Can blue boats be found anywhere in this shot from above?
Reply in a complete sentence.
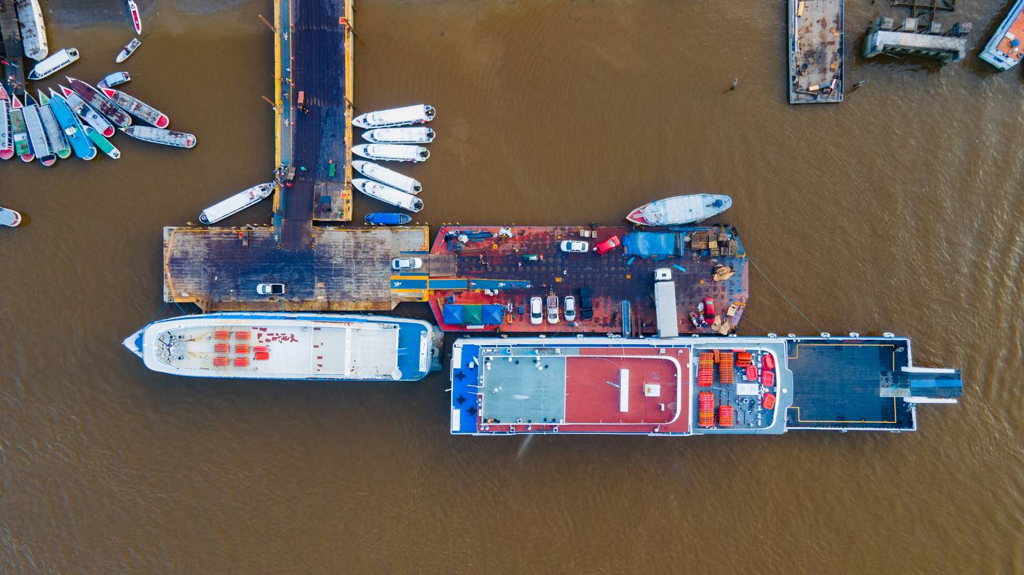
Yes, there is a blue boat in the image.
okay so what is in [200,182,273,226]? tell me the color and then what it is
white boat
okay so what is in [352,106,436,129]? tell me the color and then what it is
white boat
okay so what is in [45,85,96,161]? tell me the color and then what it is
blue boat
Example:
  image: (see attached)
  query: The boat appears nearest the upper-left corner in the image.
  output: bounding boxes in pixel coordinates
[19,0,51,61]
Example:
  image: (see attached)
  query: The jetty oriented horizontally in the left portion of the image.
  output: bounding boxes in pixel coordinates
[164,226,429,310]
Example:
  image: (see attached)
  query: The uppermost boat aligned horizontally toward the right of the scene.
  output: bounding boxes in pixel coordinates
[627,192,731,224]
